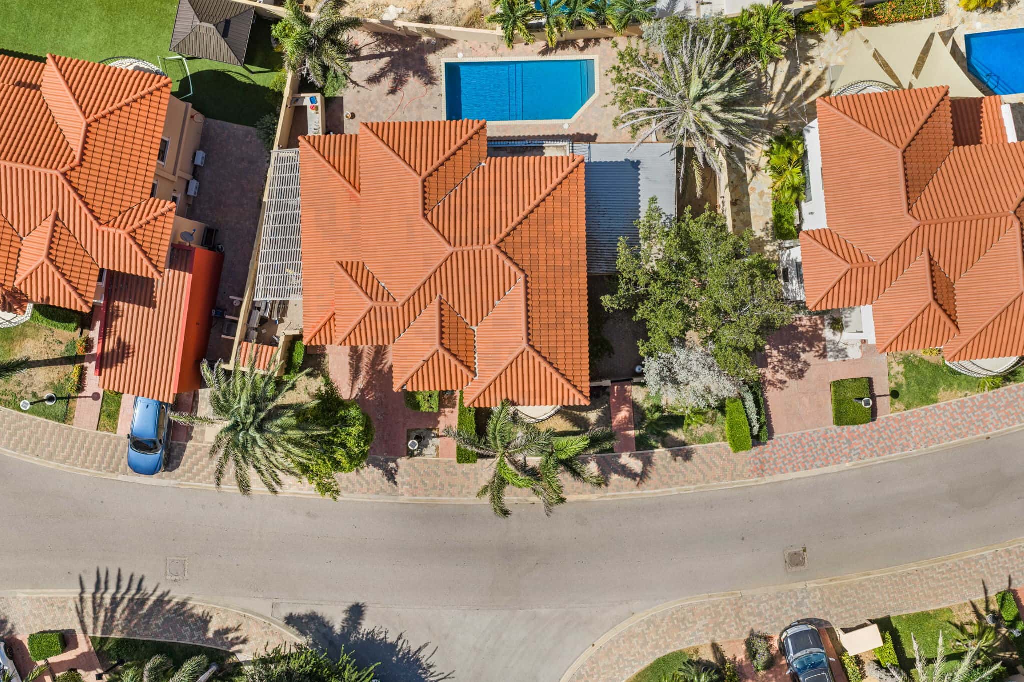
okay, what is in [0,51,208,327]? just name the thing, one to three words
house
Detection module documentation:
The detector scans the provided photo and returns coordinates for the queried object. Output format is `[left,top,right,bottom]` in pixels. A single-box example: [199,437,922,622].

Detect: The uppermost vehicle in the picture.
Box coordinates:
[122,395,173,473]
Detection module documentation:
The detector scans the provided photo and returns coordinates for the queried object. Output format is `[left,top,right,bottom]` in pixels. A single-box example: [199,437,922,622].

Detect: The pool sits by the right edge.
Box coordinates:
[961,23,1024,99]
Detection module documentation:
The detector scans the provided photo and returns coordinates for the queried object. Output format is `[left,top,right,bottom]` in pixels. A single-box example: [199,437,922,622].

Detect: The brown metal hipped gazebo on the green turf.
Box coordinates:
[169,0,266,79]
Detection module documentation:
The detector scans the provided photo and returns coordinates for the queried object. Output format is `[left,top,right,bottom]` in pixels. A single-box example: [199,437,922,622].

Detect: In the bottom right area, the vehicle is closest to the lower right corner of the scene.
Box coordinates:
[783,619,836,682]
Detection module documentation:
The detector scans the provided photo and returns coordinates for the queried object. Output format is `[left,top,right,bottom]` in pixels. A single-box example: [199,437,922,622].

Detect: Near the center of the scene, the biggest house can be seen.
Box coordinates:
[297,117,592,424]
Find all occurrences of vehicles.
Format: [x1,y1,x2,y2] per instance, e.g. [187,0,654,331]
[122,395,173,473]
[0,637,21,682]
[783,619,836,682]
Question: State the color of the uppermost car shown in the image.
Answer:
blue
